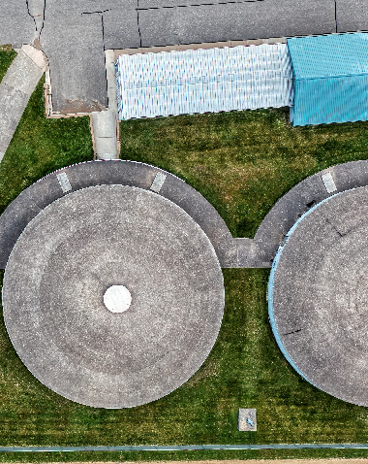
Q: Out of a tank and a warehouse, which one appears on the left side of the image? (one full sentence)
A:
You can see a tank on the left side of the image.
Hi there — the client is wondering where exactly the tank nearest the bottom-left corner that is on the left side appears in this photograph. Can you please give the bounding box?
[2,185,225,408]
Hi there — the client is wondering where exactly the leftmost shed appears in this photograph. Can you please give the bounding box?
[118,43,292,121]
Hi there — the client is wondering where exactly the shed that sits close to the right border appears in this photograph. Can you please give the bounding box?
[283,32,368,126]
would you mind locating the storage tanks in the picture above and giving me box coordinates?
[269,187,368,407]
[2,185,225,408]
